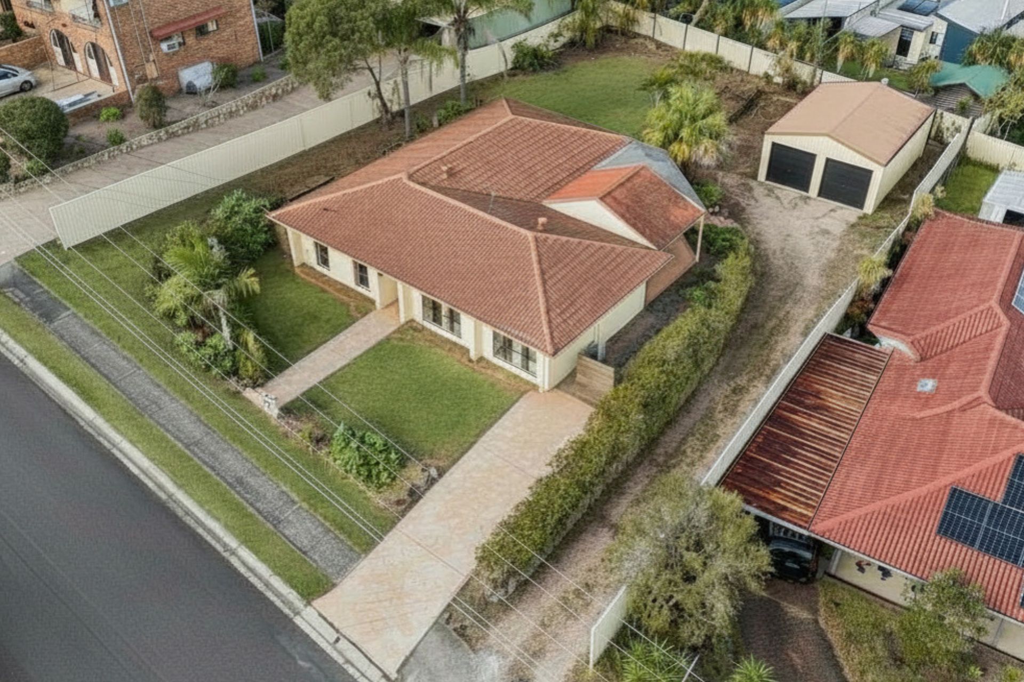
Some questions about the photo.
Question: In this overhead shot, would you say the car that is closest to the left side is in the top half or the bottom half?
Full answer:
Seen from above, the car that is closest to the left side lies in the top half of the view.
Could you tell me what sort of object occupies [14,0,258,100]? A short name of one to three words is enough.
building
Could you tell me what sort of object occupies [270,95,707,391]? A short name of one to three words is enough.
house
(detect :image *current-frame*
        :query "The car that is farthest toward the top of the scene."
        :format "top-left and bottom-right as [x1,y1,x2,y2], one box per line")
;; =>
[0,68,45,94]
